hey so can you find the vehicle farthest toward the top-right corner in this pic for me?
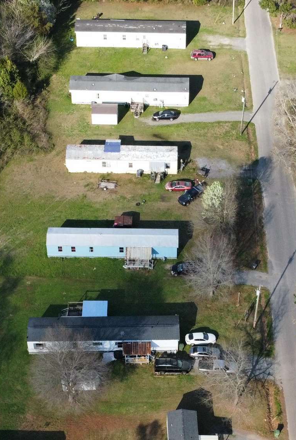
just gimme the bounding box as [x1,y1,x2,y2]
[190,48,213,61]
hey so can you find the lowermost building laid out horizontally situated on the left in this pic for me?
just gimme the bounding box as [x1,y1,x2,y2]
[26,300,179,362]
